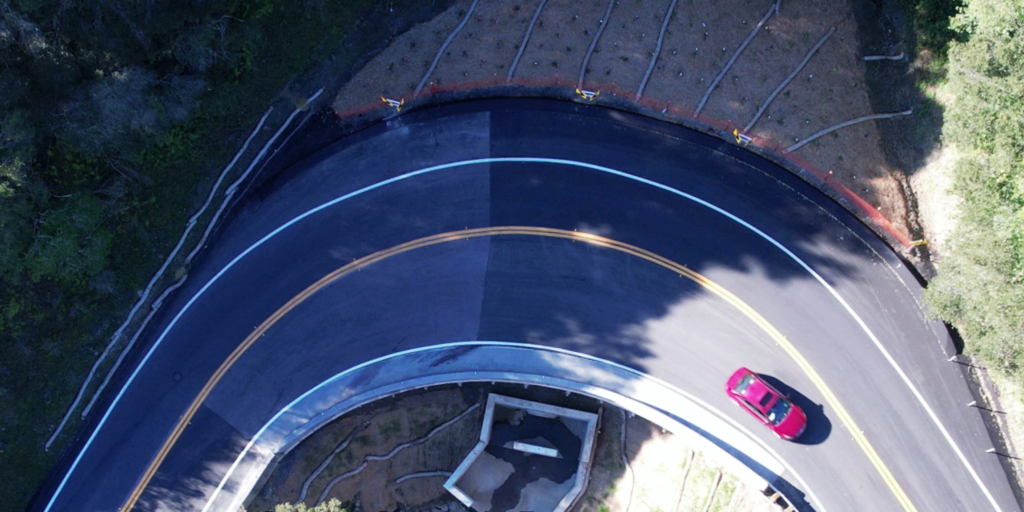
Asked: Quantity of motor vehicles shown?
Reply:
1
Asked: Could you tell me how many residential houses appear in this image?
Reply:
none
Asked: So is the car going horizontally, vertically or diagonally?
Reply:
diagonally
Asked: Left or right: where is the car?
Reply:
right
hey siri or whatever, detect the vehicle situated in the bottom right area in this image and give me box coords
[726,366,813,445]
